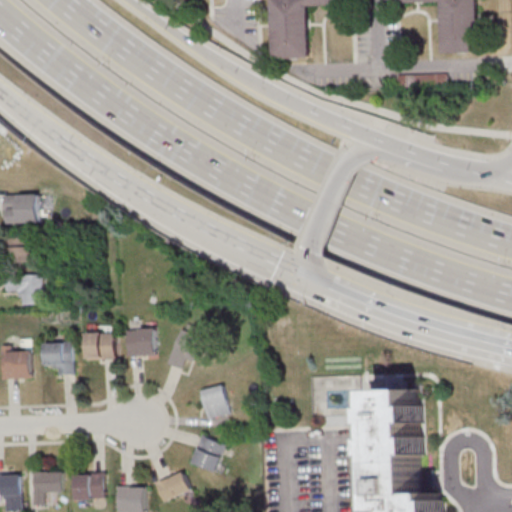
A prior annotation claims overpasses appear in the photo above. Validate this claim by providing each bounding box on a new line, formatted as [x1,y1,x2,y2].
[294,145,392,255]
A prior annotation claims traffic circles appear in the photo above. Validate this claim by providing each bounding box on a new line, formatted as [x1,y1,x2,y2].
[439,428,512,512]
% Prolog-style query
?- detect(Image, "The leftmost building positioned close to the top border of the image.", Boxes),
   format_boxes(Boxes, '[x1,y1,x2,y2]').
[268,0,336,59]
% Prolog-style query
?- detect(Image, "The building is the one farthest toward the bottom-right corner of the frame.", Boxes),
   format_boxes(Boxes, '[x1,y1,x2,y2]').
[346,388,445,512]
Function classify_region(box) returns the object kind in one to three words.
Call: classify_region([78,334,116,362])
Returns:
house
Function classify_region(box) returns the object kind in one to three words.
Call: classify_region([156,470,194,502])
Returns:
house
